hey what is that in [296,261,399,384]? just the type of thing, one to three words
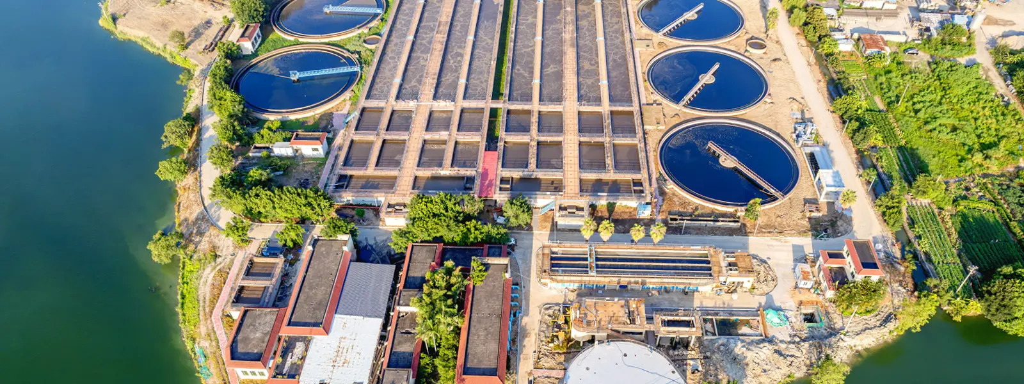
shed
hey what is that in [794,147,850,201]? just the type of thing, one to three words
building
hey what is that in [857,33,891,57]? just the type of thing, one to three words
house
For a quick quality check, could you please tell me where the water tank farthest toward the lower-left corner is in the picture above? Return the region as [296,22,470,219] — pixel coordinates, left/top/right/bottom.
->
[222,256,292,314]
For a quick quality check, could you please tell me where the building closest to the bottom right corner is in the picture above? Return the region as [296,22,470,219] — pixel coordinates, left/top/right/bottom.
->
[817,238,885,299]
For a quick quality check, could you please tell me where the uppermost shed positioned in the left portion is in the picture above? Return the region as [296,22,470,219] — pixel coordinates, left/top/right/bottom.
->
[234,22,264,54]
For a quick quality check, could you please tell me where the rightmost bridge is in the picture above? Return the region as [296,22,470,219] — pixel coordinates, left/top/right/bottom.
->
[700,137,787,200]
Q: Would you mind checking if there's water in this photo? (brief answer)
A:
Yes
